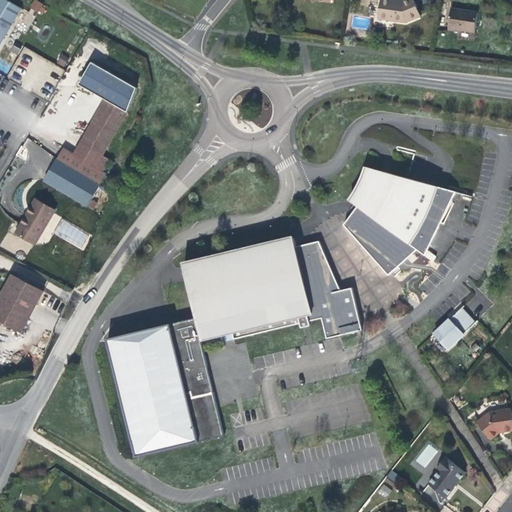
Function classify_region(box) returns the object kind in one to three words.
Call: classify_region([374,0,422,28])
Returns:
house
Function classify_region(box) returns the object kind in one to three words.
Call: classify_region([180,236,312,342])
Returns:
building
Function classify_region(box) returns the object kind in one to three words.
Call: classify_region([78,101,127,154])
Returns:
barn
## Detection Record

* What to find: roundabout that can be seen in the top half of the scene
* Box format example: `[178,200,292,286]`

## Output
[205,67,309,152]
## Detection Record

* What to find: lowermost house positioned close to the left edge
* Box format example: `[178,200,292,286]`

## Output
[0,274,44,334]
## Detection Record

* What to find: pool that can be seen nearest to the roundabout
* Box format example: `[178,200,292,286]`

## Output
[352,16,370,30]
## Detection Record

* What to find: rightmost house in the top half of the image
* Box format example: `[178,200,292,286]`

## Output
[446,2,480,34]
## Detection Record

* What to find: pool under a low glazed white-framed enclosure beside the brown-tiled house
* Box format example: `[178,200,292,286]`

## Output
[55,218,91,250]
